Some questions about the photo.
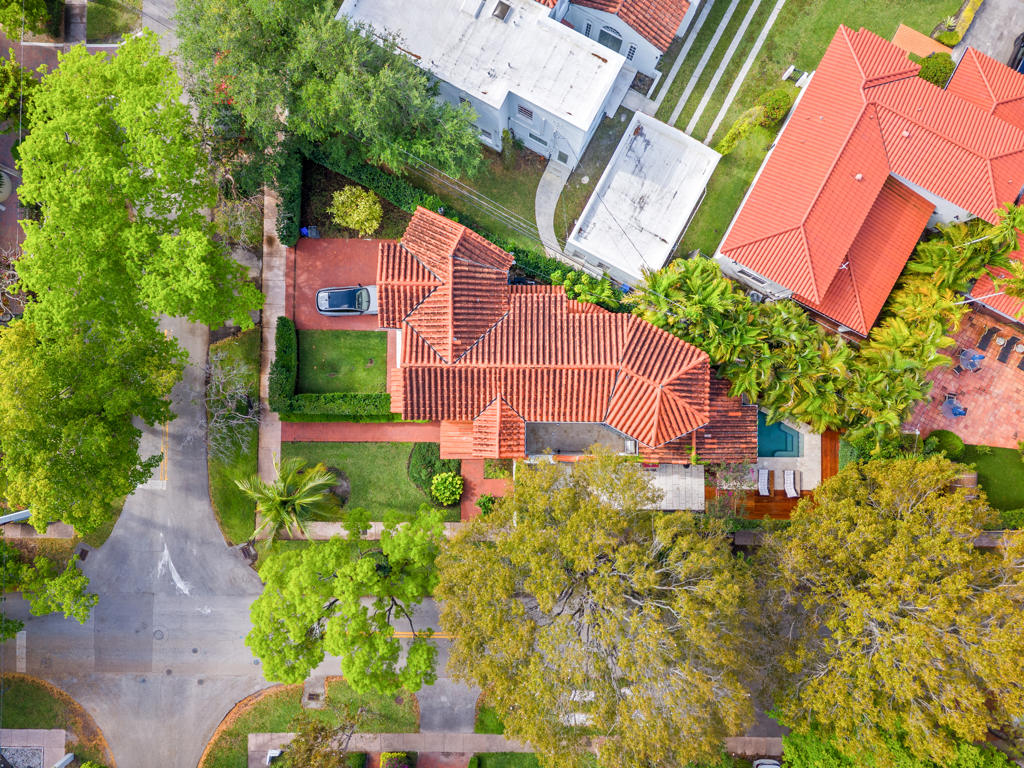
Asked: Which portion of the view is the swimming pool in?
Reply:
right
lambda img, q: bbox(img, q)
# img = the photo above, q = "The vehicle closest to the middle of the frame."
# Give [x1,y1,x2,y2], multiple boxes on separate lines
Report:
[311,280,379,318]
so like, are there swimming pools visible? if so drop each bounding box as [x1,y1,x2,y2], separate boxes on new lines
[757,412,805,457]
